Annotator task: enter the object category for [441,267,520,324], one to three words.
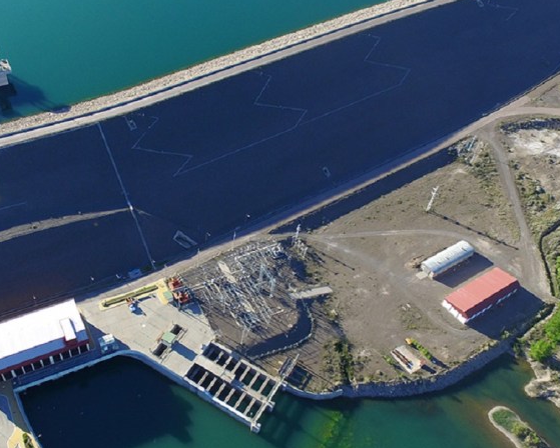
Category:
shed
